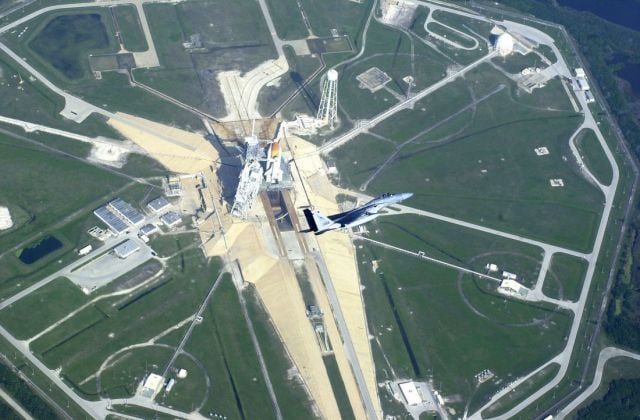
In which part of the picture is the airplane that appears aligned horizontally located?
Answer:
center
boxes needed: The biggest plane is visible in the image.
[302,195,411,234]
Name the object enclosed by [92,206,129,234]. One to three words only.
building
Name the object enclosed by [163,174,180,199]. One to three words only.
building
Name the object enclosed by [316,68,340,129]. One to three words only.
water tower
